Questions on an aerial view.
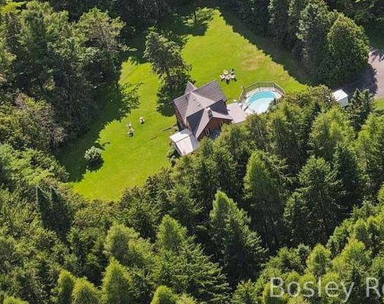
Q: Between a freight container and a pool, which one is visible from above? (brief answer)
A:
pool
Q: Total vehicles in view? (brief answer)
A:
0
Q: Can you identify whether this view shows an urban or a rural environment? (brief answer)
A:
rural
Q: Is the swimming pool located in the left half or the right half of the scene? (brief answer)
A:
right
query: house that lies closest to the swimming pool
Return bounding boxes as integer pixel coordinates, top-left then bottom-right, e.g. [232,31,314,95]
[168,78,236,148]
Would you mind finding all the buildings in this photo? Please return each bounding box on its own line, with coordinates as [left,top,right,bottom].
[168,78,236,148]
[332,90,349,111]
